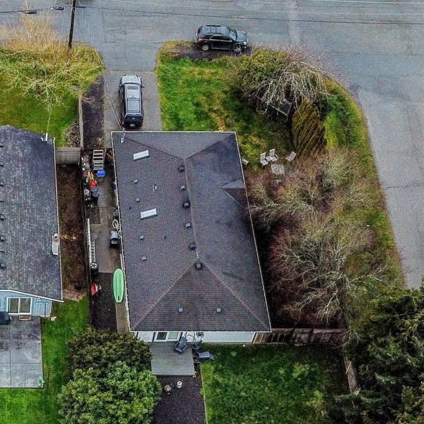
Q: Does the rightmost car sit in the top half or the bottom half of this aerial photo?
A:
top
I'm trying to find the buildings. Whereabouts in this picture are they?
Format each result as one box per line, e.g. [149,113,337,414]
[112,129,271,348]
[0,128,63,321]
